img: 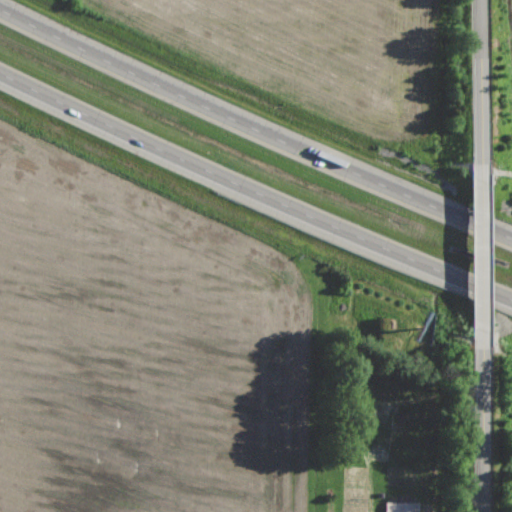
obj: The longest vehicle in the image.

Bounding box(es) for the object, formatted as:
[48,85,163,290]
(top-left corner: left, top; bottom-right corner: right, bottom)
[308,146,350,168]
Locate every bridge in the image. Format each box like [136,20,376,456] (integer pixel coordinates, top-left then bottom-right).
[472,156,496,360]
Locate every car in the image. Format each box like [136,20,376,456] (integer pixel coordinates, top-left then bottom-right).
[70,110,81,118]
[314,160,326,168]
[132,140,143,148]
